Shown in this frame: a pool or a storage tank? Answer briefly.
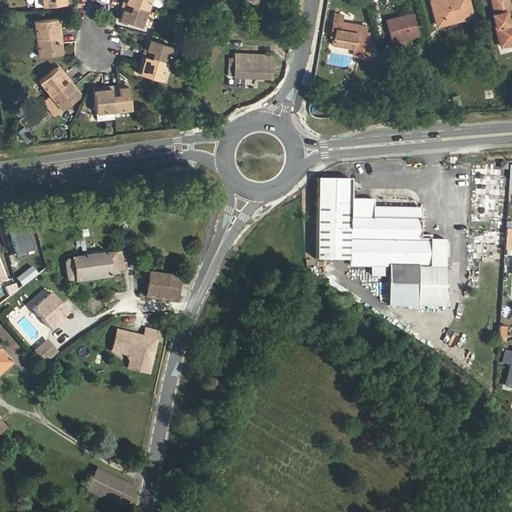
pool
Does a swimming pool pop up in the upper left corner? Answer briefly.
No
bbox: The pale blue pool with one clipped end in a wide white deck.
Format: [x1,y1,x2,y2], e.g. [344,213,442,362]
[6,306,50,346]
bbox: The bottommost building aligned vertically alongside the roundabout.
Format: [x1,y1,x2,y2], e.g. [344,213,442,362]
[320,178,353,260]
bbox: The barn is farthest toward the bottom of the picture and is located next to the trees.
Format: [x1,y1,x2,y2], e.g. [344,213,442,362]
[88,467,139,512]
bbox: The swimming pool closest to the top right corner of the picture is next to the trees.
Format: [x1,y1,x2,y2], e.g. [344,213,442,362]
[326,44,357,71]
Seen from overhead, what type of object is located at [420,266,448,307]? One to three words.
building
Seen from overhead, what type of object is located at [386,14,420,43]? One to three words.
house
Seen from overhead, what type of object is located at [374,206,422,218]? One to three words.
building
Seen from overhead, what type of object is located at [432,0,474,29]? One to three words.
house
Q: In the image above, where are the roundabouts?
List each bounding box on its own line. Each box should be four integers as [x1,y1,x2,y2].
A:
[216,112,305,202]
